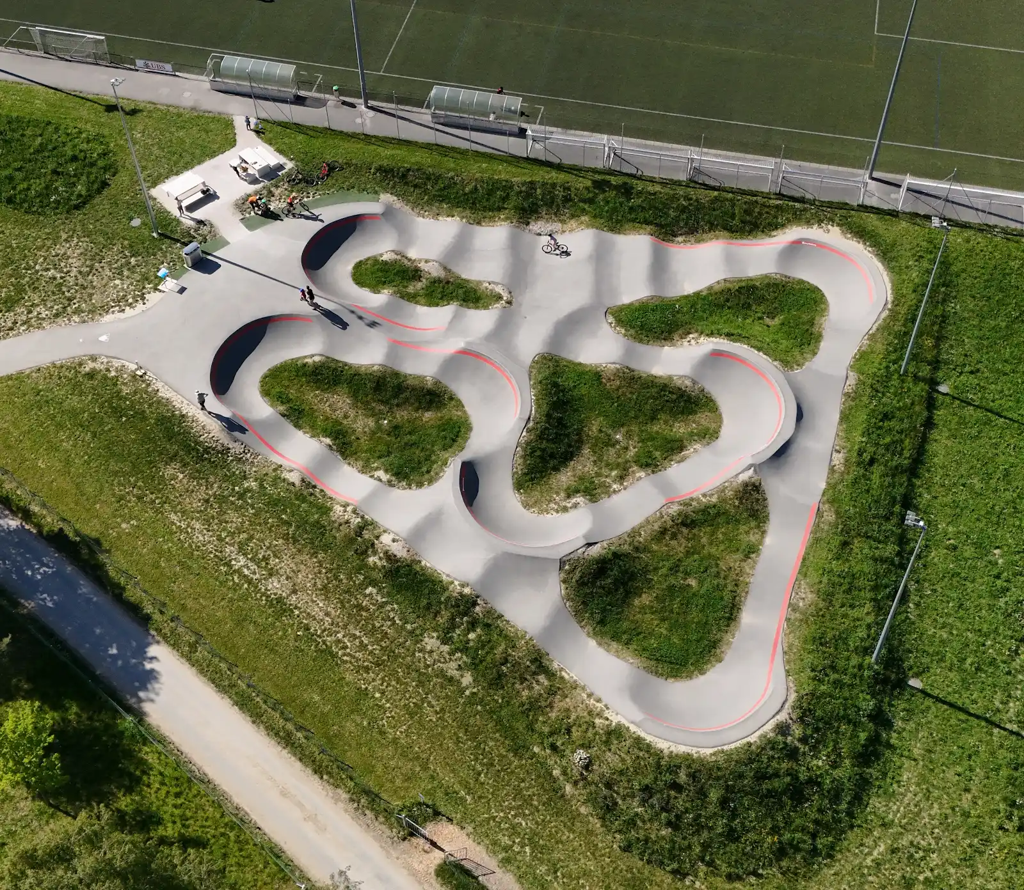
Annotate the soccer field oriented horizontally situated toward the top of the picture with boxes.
[0,0,1024,193]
